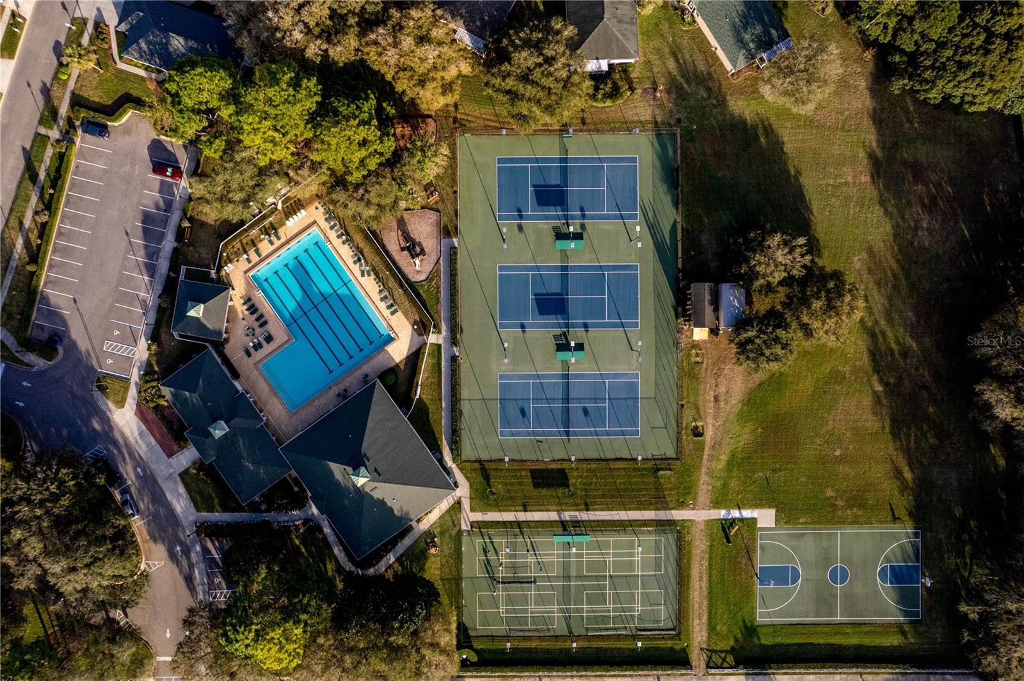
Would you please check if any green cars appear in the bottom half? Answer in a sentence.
No, there is no green car in the bottom half.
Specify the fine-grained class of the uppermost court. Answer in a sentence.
What you see as the uppermost court is a tennis court.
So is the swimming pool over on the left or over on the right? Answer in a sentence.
You can find the swimming pool on the left side of the picture.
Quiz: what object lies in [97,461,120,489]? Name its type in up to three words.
car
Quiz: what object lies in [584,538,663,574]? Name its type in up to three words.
sports court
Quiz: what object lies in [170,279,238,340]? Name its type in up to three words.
building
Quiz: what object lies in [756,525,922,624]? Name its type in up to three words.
basketball court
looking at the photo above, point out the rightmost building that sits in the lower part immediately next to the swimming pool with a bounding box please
[278,378,457,563]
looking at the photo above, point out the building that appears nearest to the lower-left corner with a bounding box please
[158,349,293,507]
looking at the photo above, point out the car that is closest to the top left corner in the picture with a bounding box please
[78,120,108,138]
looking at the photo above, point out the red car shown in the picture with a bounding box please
[150,162,180,180]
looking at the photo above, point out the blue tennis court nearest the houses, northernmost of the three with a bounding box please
[497,149,640,227]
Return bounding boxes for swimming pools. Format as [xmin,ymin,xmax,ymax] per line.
[241,221,402,421]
